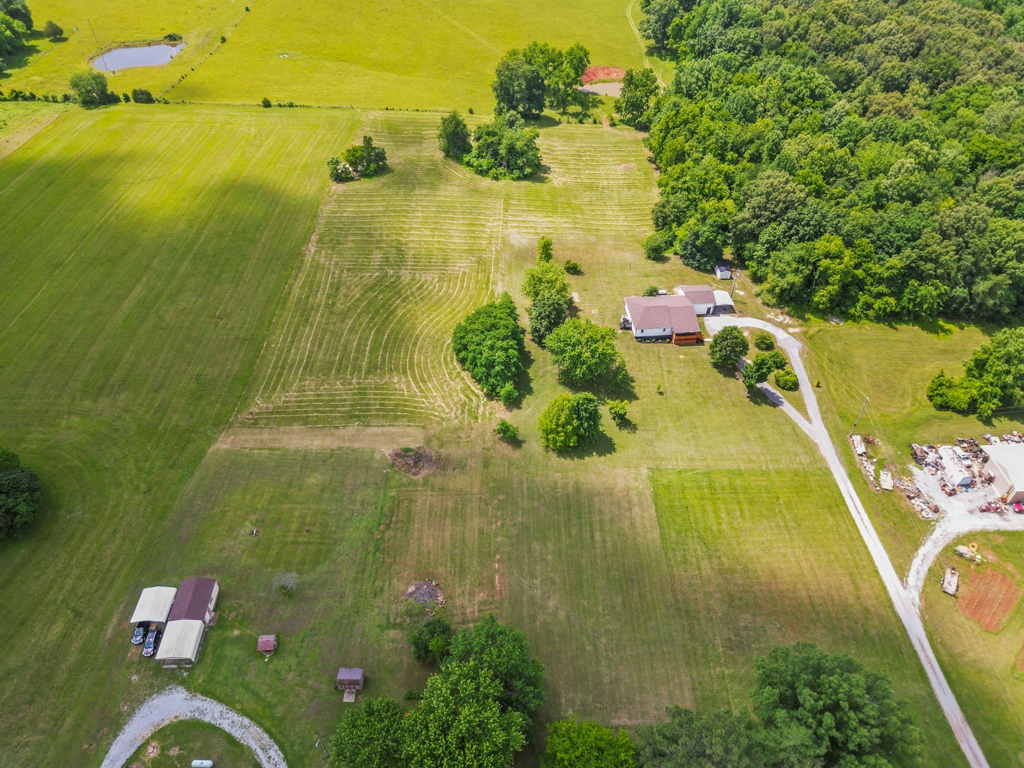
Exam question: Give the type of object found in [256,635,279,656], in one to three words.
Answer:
building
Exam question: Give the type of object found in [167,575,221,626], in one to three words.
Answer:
building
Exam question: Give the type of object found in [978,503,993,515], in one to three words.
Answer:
vehicle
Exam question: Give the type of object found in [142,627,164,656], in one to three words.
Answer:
car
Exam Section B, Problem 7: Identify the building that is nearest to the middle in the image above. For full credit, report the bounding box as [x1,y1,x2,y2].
[618,296,703,344]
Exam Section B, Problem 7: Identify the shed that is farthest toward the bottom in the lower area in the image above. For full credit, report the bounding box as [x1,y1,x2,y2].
[336,669,366,690]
